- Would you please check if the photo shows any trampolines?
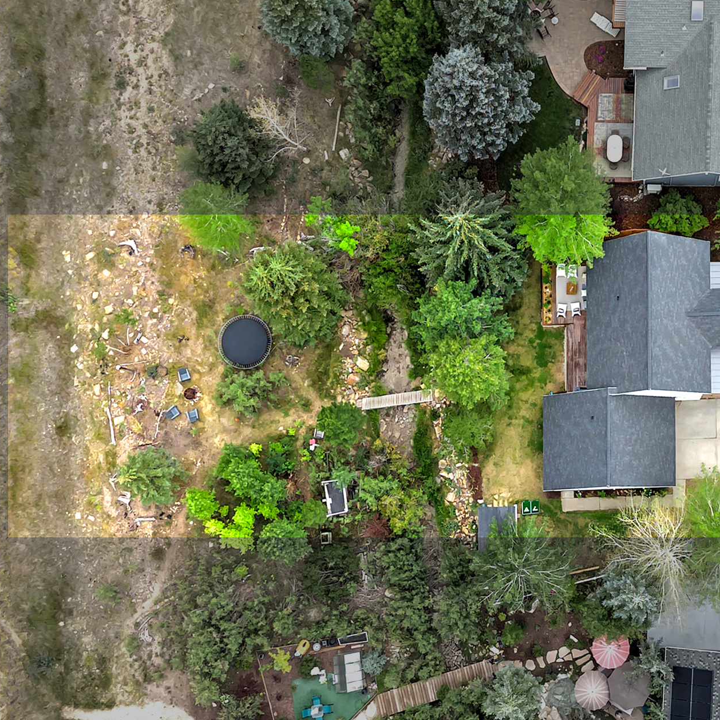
Yes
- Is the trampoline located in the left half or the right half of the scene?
left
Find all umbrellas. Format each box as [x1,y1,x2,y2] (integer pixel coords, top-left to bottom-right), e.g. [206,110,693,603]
[592,631,630,667]
[607,662,652,706]
[575,673,610,709]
